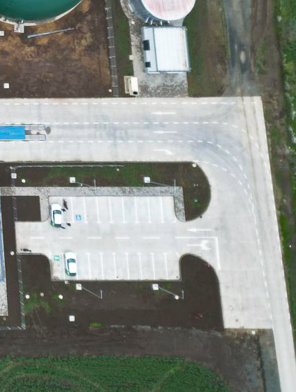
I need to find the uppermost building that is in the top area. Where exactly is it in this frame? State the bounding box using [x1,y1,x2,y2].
[144,26,190,72]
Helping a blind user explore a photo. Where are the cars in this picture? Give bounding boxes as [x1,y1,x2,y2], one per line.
[63,253,76,277]
[50,204,67,228]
